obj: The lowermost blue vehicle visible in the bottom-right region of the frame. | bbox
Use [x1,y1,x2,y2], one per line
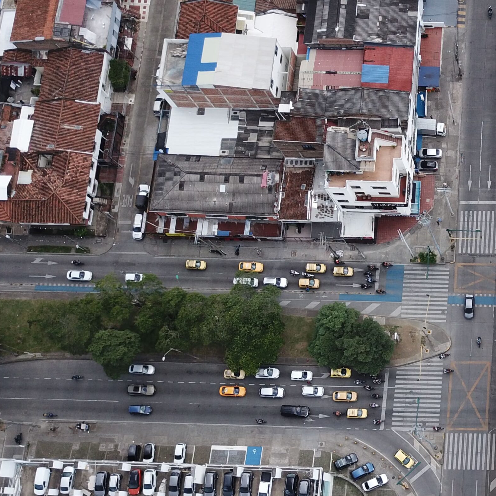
[348,461,377,483]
